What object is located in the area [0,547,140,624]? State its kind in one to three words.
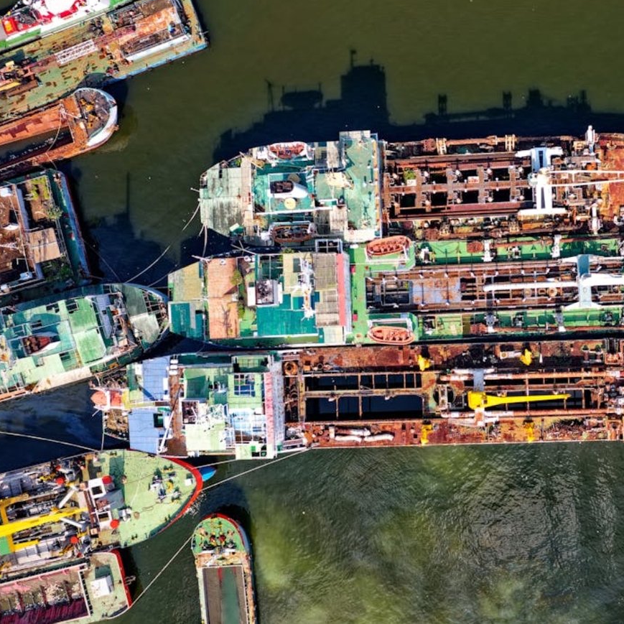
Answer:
ship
